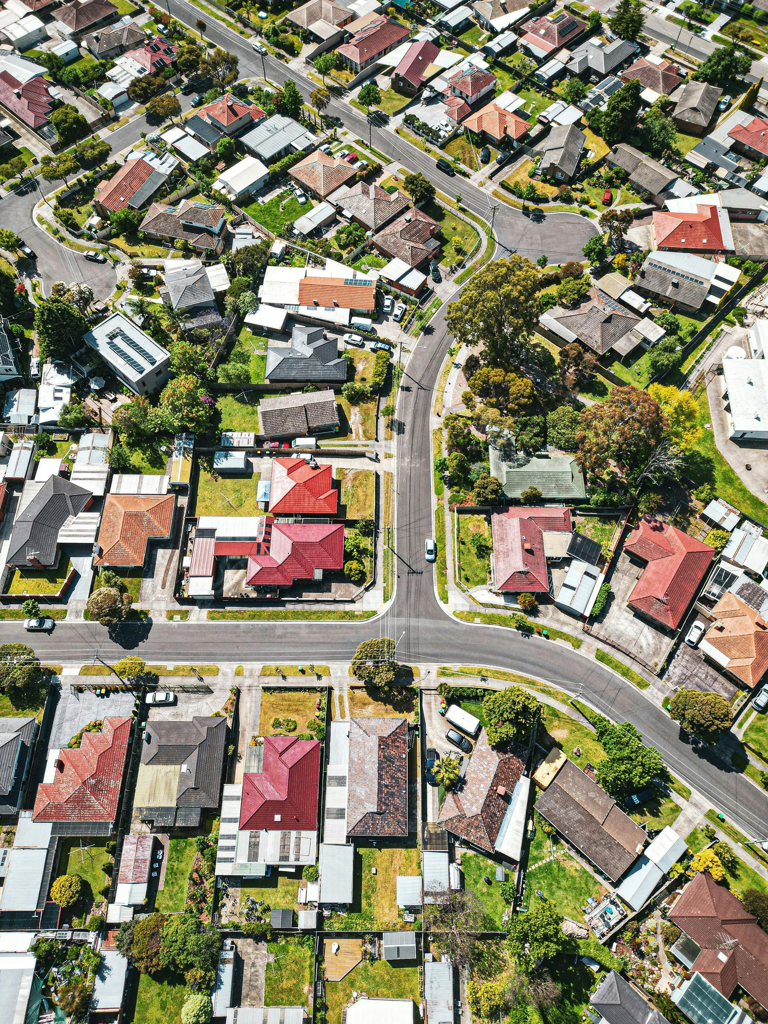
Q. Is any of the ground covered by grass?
Yes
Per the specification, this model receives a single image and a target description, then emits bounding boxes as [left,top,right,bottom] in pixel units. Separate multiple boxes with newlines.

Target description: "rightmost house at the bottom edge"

[666,872,768,1024]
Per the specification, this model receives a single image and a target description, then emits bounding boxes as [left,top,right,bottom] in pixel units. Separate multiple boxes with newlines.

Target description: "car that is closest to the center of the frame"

[424,538,436,562]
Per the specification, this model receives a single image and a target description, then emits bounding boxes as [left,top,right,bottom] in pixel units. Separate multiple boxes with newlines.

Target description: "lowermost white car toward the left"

[145,690,175,704]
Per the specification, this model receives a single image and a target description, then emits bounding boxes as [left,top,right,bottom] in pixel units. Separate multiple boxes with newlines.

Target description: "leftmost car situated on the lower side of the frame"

[23,617,54,630]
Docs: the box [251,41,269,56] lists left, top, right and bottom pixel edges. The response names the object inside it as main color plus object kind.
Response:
white car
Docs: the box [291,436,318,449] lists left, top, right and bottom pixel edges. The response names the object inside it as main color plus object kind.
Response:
white vehicle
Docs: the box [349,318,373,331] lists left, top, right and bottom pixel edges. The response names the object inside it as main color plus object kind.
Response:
white vehicle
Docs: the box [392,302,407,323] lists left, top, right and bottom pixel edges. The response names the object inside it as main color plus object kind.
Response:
white car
